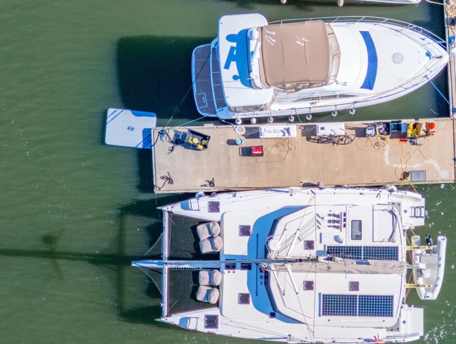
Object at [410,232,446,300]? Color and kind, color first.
white boat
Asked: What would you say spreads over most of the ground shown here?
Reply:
water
